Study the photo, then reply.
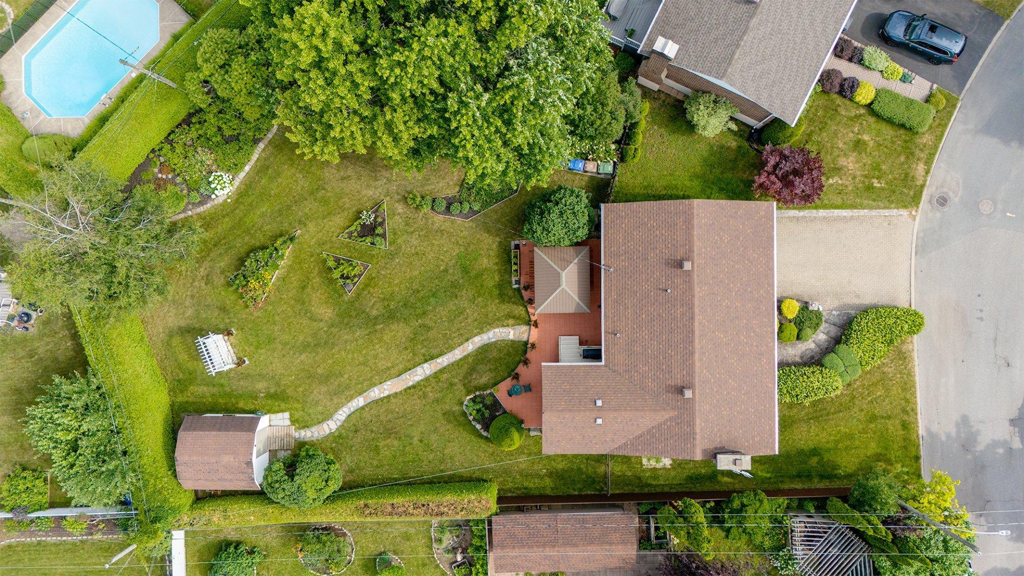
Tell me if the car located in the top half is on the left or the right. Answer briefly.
right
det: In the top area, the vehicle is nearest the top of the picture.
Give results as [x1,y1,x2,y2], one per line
[878,9,976,67]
